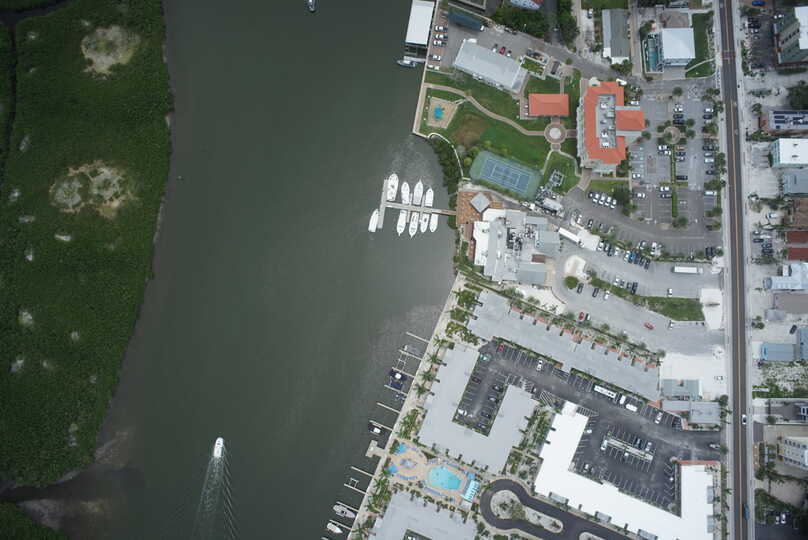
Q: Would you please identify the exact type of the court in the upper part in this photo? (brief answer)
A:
tennis court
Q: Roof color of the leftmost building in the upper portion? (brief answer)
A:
white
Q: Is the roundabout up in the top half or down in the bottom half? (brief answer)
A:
bottom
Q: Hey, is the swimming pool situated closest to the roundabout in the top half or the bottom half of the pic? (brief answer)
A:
bottom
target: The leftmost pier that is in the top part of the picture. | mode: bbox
[377,179,451,228]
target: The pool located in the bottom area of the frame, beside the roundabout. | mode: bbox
[427,463,462,491]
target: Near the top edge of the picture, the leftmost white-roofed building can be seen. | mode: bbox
[404,0,434,62]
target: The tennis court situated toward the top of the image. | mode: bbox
[470,149,544,202]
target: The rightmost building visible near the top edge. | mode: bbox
[763,6,808,69]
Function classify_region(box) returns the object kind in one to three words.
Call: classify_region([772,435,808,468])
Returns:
building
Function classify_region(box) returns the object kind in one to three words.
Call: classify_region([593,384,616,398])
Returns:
vehicle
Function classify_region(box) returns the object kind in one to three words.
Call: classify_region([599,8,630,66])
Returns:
house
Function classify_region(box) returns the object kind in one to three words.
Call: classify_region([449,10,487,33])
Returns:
shed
